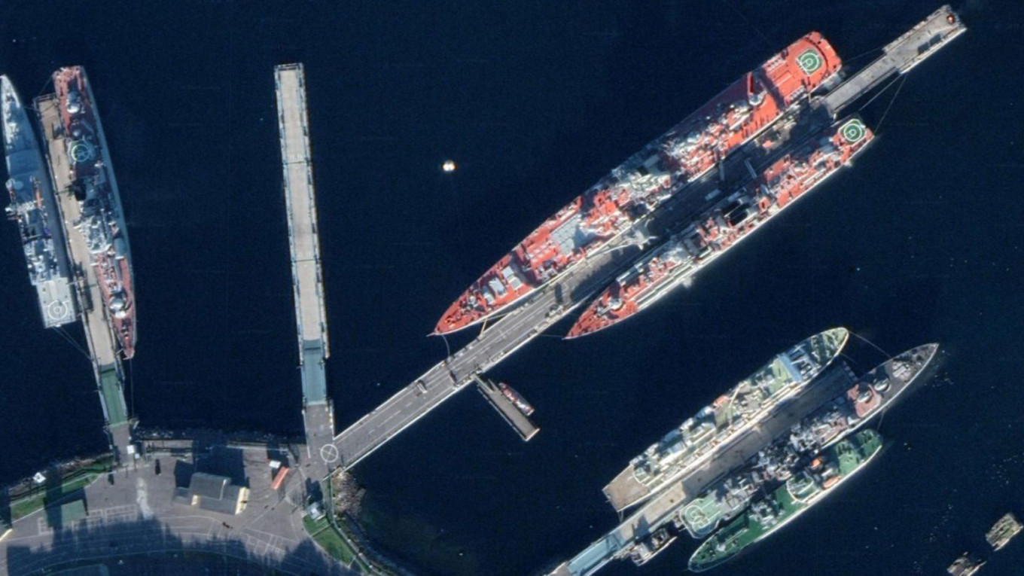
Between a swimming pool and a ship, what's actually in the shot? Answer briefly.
ship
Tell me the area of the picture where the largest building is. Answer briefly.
bottom left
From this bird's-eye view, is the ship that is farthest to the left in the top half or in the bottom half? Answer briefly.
top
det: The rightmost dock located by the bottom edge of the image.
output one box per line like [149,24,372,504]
[565,357,861,576]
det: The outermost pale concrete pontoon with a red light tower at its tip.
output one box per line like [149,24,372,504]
[883,5,964,76]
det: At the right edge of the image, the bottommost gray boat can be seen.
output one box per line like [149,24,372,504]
[945,550,987,576]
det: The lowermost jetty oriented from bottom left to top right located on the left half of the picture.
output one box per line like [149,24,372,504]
[329,353,466,469]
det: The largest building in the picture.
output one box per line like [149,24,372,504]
[173,472,248,514]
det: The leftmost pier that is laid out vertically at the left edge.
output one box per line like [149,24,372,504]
[34,92,140,468]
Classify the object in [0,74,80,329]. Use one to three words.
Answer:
ship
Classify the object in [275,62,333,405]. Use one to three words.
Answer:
pier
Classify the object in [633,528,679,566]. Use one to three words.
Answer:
ship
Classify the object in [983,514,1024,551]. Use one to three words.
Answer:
boat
